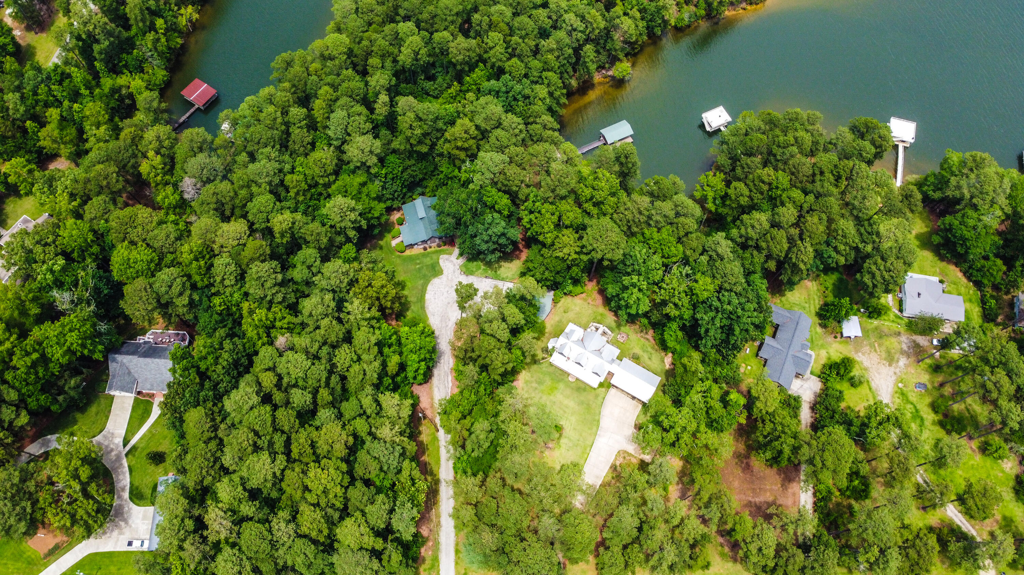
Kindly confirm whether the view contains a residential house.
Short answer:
Yes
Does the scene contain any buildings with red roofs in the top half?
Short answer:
Yes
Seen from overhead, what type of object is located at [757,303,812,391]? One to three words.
house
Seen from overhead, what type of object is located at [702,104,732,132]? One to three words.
pier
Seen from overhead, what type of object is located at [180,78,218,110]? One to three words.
building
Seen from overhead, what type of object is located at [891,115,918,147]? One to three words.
pier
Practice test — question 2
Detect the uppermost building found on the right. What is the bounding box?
[600,120,633,147]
